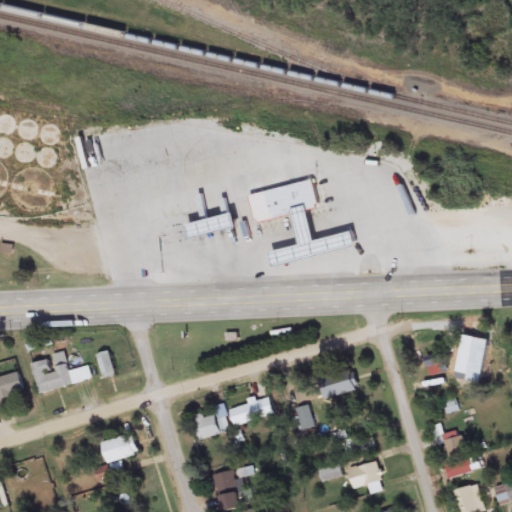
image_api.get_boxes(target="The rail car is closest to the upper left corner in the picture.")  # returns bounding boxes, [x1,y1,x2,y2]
[1,3,42,17]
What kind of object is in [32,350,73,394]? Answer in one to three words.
house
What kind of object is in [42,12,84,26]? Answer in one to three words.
rail car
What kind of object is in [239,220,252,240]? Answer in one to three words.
vehicle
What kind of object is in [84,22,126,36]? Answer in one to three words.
rail car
